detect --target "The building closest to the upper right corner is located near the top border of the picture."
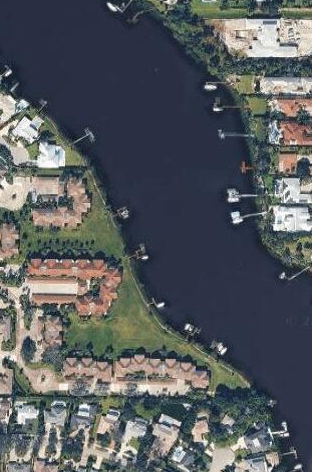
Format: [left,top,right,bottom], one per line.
[240,20,295,57]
